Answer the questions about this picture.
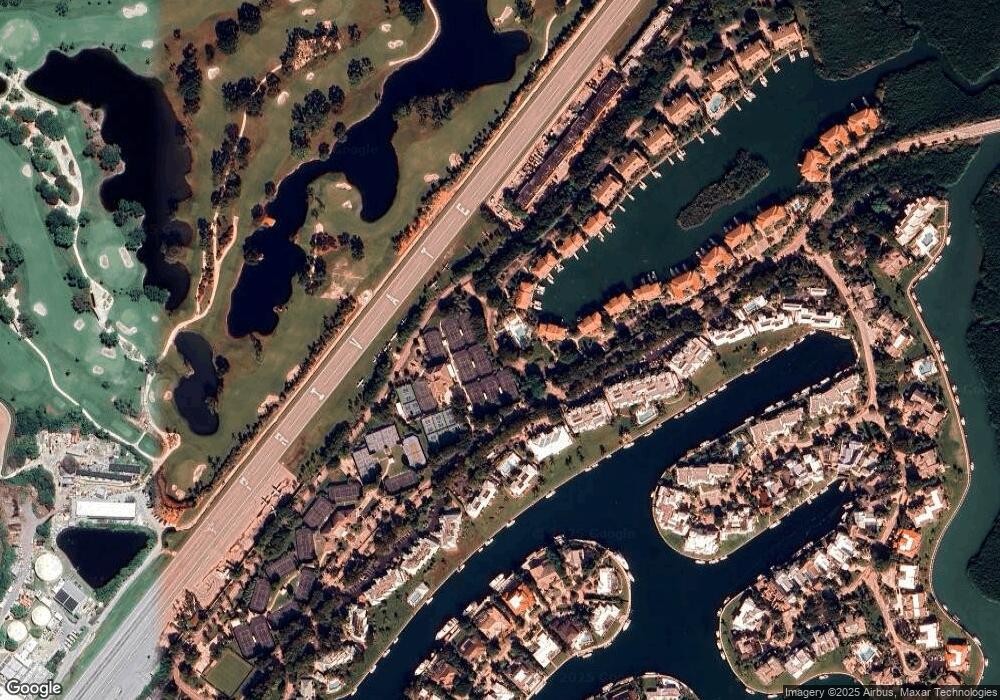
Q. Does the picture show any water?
Yes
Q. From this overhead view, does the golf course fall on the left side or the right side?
left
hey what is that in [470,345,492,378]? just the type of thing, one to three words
tennis court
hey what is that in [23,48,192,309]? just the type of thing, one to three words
pond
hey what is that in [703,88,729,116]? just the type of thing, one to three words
swimming pool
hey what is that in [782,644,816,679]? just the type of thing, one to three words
house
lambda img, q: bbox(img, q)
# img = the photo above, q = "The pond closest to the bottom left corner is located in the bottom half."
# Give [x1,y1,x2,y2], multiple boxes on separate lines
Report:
[57,527,150,589]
